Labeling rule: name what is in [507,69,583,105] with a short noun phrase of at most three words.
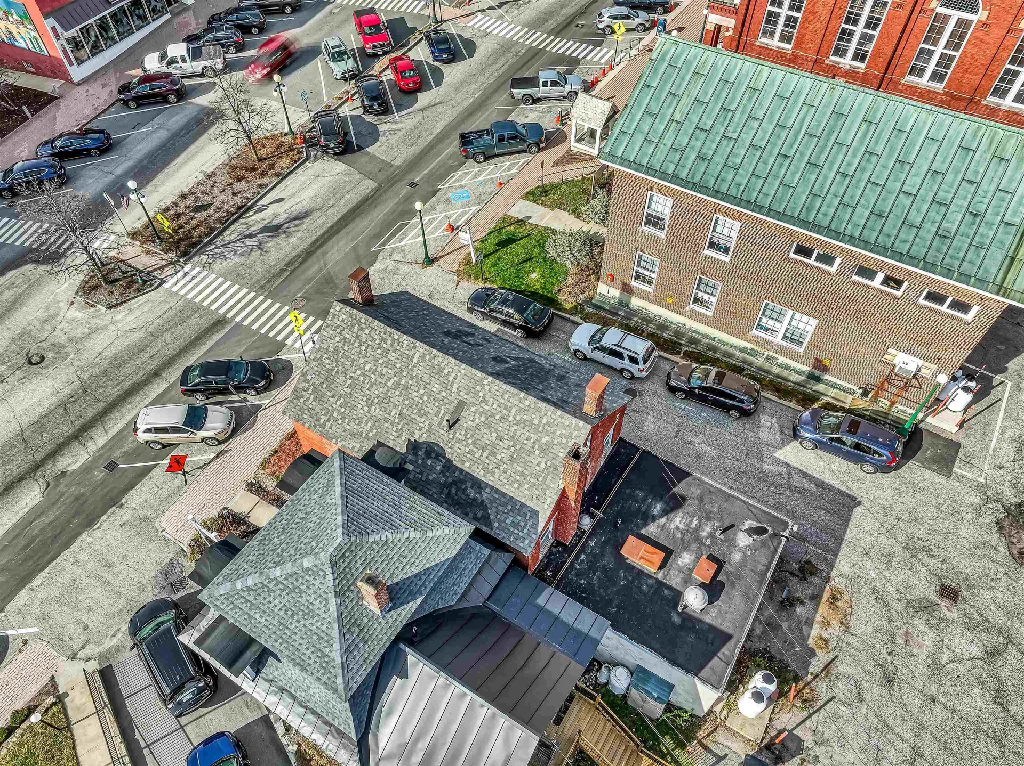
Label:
truck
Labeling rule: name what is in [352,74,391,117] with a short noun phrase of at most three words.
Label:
car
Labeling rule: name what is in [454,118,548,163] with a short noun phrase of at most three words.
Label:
truck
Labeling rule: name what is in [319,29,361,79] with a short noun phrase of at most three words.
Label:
car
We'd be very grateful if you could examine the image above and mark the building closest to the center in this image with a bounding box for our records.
[282,263,635,576]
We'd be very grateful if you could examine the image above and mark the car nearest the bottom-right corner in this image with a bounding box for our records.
[792,407,909,477]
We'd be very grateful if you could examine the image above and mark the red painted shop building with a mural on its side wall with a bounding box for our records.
[0,0,190,83]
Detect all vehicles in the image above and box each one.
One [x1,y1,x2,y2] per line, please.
[171,357,273,401]
[309,111,348,156]
[319,29,361,79]
[592,4,652,34]
[34,126,113,157]
[206,3,267,34]
[124,400,234,450]
[116,70,186,108]
[454,118,548,163]
[352,74,391,117]
[507,69,583,105]
[792,407,909,477]
[183,23,244,55]
[352,7,393,55]
[603,0,672,14]
[423,29,456,63]
[466,288,554,339]
[135,602,226,734]
[240,41,296,81]
[666,359,771,420]
[0,146,74,198]
[239,0,299,14]
[567,323,663,381]
[387,56,424,93]
[141,43,227,77]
